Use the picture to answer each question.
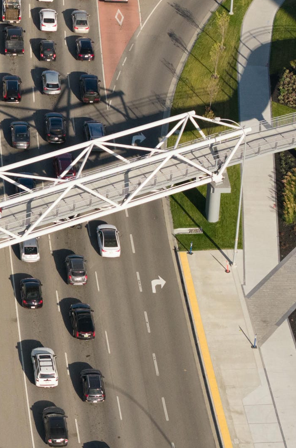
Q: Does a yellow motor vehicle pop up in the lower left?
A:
No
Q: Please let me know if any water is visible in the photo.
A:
No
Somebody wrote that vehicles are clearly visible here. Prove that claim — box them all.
[75,40,95,64]
[71,11,91,35]
[59,215,80,232]
[53,154,76,184]
[96,227,121,259]
[1,77,23,104]
[79,369,106,408]
[42,409,70,448]
[8,124,30,152]
[38,41,57,66]
[19,234,42,265]
[31,351,58,391]
[41,73,61,98]
[79,77,101,104]
[44,116,67,144]
[70,306,95,343]
[20,280,44,313]
[64,255,90,290]
[3,26,25,57]
[2,0,22,23]
[39,10,58,34]
[82,123,106,154]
